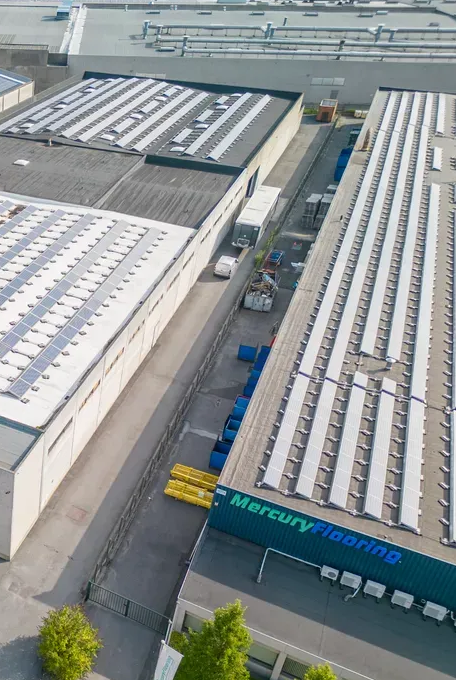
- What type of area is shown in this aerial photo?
industrial area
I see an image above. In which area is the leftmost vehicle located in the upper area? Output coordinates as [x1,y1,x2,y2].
[212,252,244,277]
